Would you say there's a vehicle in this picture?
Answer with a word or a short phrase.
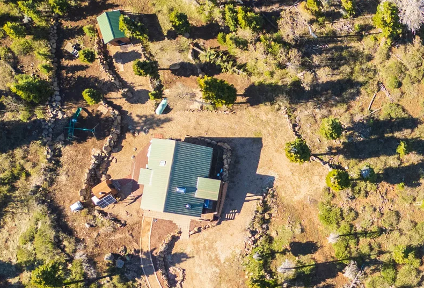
No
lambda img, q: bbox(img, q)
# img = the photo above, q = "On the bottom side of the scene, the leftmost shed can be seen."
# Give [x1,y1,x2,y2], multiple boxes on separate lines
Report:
[92,177,129,199]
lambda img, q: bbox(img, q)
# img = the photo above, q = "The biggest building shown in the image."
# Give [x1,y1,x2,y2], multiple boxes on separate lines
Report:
[136,138,230,226]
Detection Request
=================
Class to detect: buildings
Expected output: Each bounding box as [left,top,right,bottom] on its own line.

[97,11,133,46]
[92,177,129,199]
[136,138,230,226]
